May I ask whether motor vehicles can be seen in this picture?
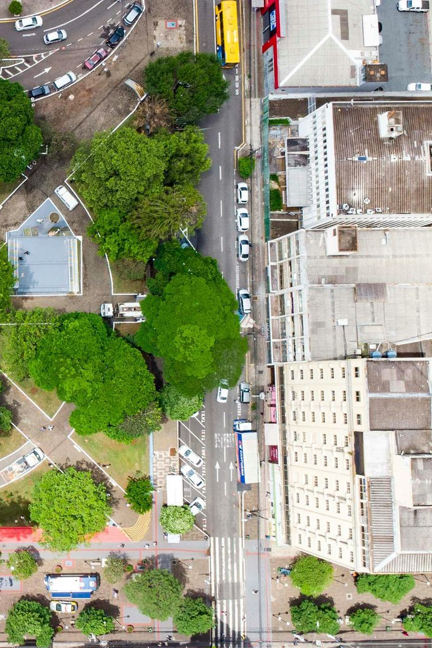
Yes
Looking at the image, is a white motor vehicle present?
Yes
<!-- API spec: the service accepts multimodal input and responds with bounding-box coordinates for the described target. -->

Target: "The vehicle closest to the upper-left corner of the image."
[15,16,42,31]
